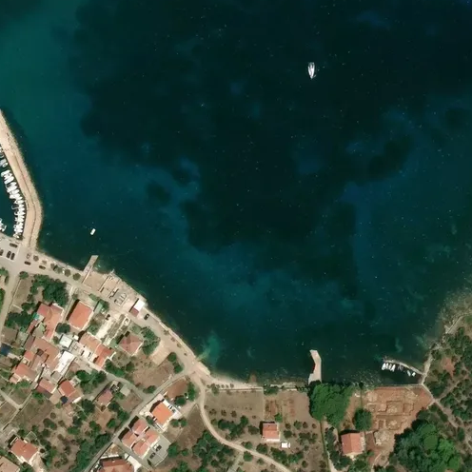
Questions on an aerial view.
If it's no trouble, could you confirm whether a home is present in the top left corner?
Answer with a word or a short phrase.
No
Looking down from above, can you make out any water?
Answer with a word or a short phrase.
Yes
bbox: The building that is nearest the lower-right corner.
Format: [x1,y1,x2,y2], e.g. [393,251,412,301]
[340,431,366,457]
